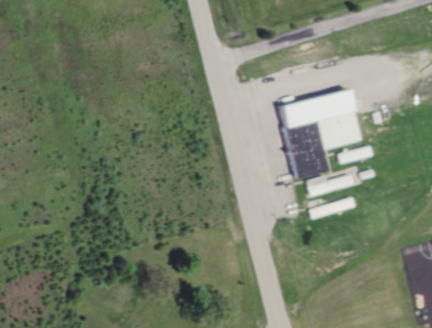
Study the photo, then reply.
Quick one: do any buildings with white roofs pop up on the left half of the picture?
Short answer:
No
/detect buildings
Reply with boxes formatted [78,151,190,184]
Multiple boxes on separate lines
[309,175,354,196]
[338,146,373,164]
[279,89,364,180]
[310,196,356,218]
